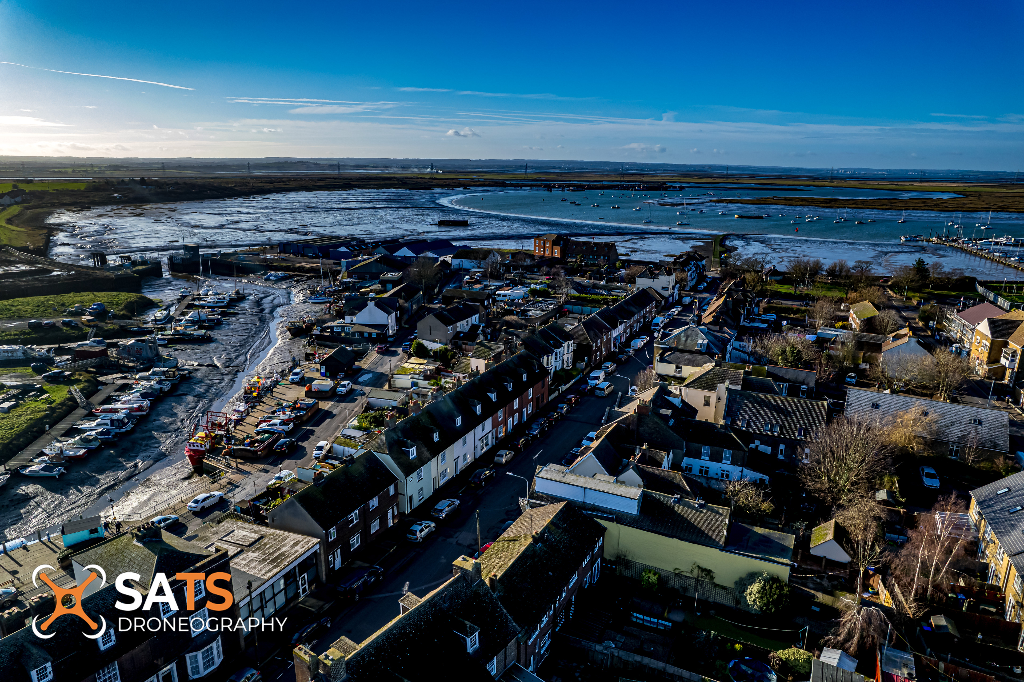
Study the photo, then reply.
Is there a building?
Yes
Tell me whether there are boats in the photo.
Yes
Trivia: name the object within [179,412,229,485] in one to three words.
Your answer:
boat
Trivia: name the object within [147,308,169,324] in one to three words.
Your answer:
boat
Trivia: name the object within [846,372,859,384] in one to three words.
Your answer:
vehicle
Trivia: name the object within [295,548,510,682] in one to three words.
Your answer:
house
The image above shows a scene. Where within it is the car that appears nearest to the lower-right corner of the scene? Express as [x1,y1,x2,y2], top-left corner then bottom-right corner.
[918,466,942,488]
